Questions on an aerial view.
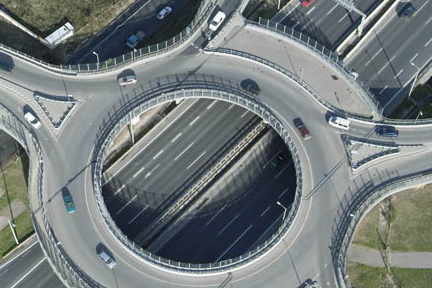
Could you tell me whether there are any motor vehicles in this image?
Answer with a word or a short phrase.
Yes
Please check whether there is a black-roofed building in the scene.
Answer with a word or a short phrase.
No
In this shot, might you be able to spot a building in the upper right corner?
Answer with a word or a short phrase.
No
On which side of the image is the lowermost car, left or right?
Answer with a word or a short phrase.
left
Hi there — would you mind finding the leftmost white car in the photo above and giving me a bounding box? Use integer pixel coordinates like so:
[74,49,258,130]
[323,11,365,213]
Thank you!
[23,109,43,130]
